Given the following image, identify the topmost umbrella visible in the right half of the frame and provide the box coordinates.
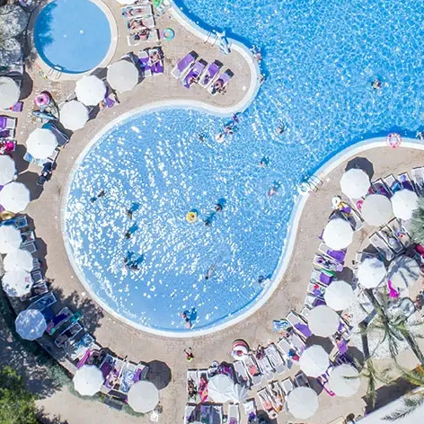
[338,166,370,197]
